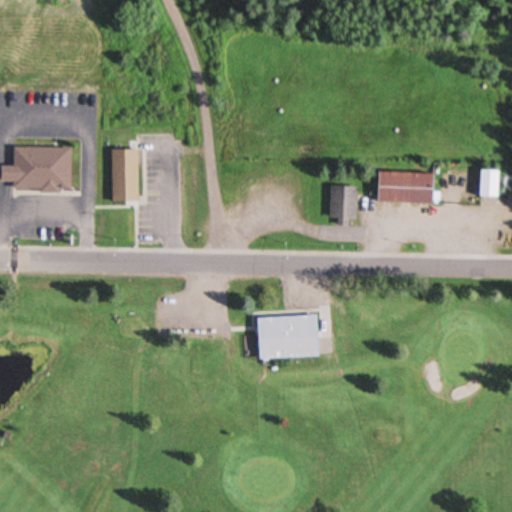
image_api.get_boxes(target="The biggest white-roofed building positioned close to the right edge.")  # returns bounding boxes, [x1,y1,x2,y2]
[480,168,501,198]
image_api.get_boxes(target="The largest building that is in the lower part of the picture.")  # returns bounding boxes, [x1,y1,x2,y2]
[246,314,320,365]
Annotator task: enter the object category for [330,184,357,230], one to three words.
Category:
house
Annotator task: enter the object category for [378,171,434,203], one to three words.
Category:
building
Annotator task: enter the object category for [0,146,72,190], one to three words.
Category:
building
